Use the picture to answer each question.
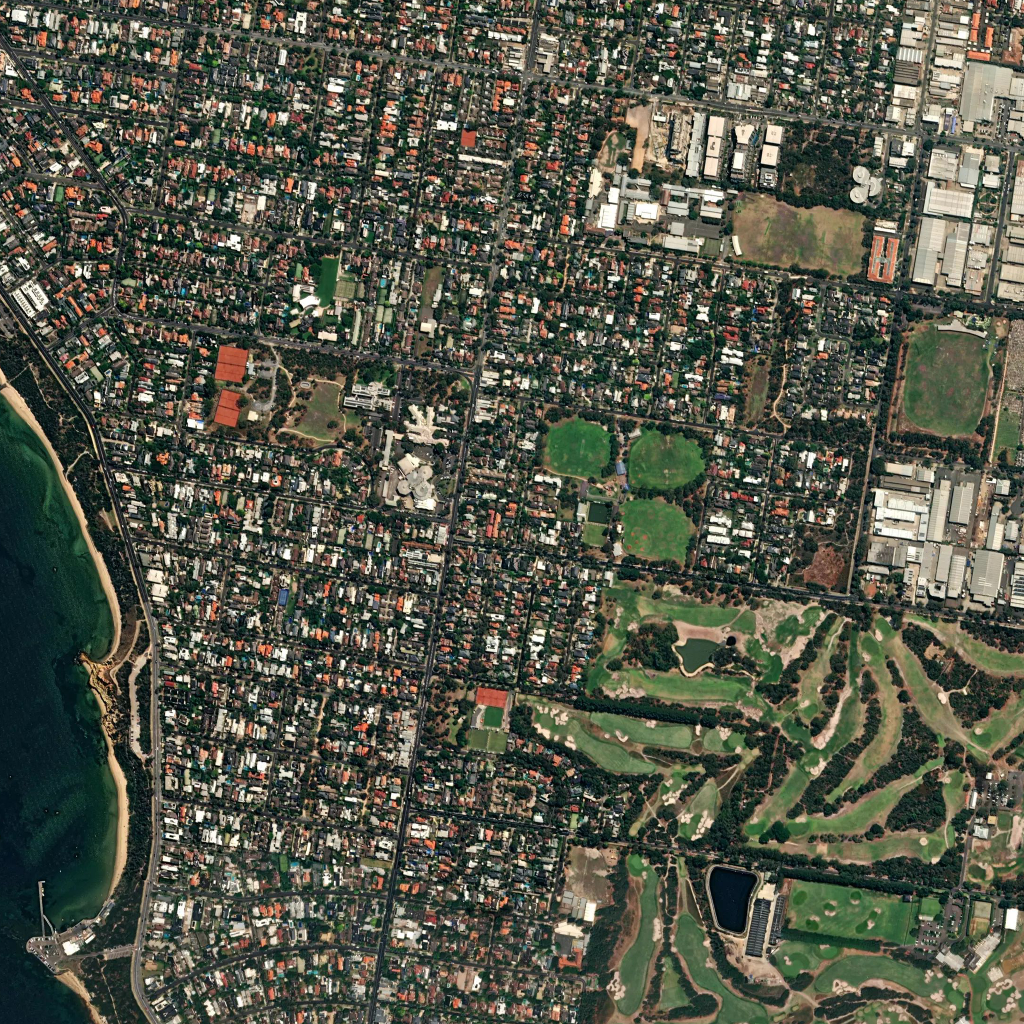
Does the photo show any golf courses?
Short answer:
Yes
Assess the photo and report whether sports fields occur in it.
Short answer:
Yes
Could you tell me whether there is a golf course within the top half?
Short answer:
No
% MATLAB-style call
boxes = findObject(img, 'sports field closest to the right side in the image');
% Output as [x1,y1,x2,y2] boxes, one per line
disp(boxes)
[904,330,989,435]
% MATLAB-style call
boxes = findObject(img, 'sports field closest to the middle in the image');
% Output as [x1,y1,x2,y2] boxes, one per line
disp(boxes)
[546,418,611,476]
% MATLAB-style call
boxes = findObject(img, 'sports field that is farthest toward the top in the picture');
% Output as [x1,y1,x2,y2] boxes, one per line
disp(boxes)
[599,132,626,166]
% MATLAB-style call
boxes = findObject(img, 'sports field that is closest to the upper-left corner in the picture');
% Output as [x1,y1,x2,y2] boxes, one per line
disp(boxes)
[314,257,339,306]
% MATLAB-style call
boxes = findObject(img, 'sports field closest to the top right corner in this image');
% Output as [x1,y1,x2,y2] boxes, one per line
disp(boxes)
[735,193,865,275]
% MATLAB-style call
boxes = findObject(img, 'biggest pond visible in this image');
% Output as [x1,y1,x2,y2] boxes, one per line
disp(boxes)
[706,863,760,936]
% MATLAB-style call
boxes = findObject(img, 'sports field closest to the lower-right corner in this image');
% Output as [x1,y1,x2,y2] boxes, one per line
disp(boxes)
[564,847,614,902]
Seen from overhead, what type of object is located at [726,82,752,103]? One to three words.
building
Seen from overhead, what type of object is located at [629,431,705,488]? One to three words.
sports field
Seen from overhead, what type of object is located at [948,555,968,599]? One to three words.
building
